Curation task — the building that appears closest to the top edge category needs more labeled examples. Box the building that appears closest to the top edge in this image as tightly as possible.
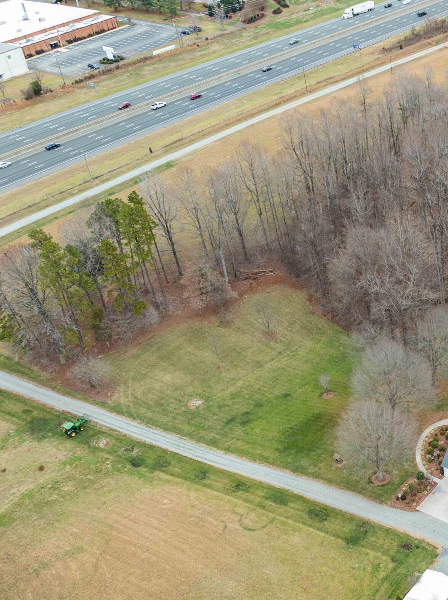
[0,0,120,58]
